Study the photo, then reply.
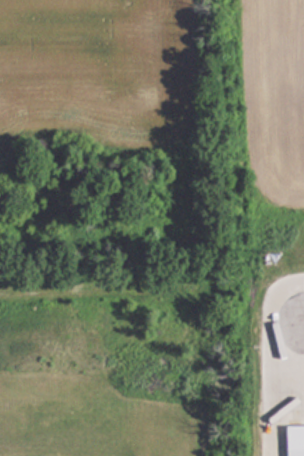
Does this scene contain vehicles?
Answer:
Yes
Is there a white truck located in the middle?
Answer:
No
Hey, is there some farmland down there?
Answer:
Yes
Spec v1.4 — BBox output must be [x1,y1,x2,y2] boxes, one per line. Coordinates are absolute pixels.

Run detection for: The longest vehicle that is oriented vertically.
[272,310,288,360]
